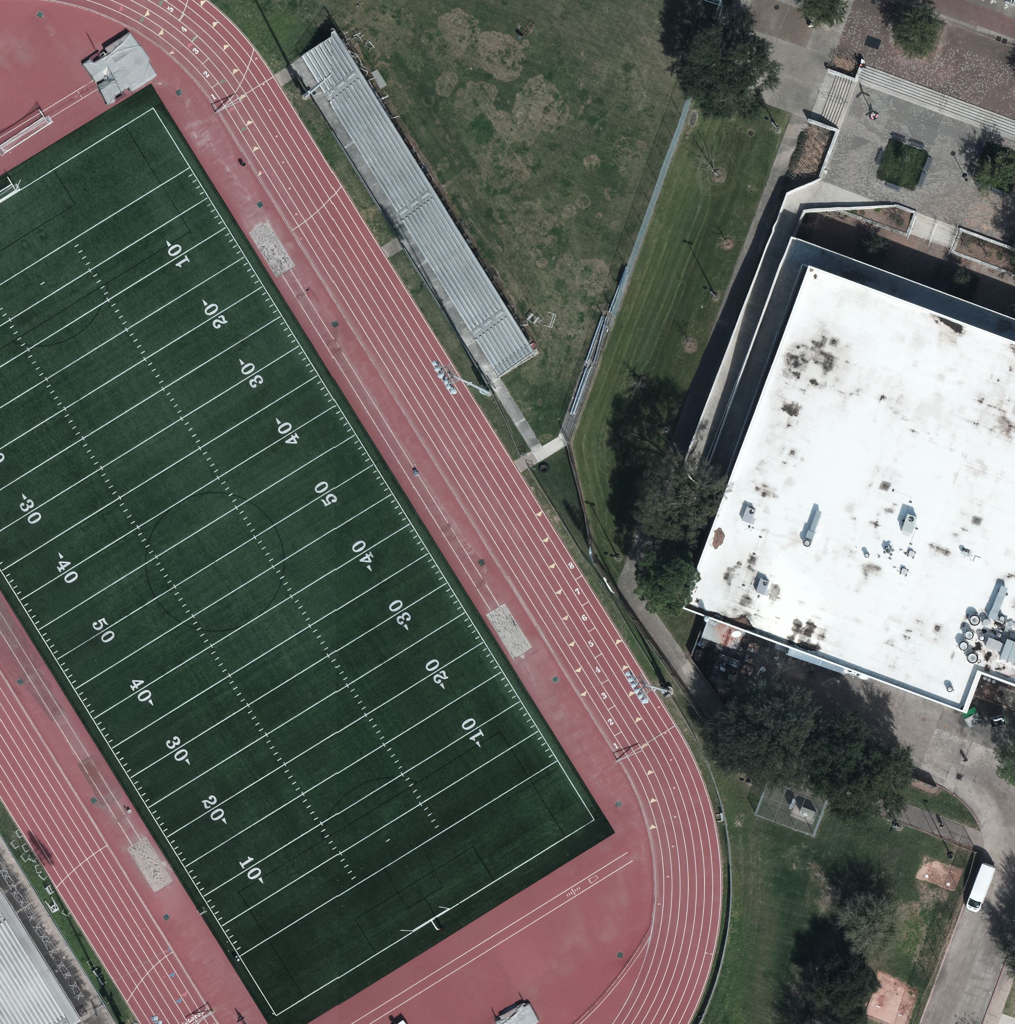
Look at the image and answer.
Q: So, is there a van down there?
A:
Yes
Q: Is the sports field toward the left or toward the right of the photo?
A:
left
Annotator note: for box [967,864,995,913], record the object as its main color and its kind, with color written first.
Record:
white van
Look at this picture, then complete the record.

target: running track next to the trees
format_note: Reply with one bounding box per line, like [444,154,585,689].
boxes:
[0,0,722,1024]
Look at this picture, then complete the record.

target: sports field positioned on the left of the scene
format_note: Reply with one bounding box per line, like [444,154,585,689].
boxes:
[0,83,614,1024]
